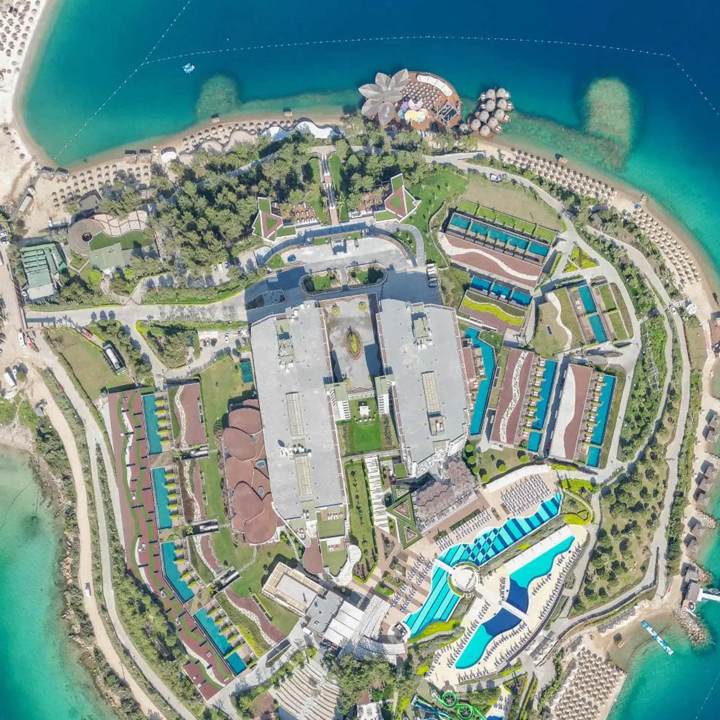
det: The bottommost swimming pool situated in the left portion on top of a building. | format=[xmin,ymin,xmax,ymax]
[227,652,246,673]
